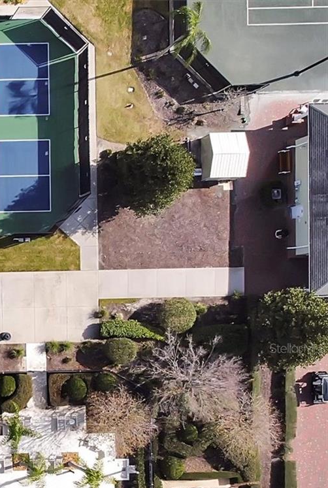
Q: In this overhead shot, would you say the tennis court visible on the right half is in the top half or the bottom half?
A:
top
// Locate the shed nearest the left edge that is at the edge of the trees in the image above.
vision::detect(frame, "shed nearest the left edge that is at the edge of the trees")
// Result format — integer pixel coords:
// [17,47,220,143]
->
[200,132,249,177]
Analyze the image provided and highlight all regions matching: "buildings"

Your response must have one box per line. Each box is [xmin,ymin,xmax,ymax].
[200,132,249,177]
[289,102,328,296]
